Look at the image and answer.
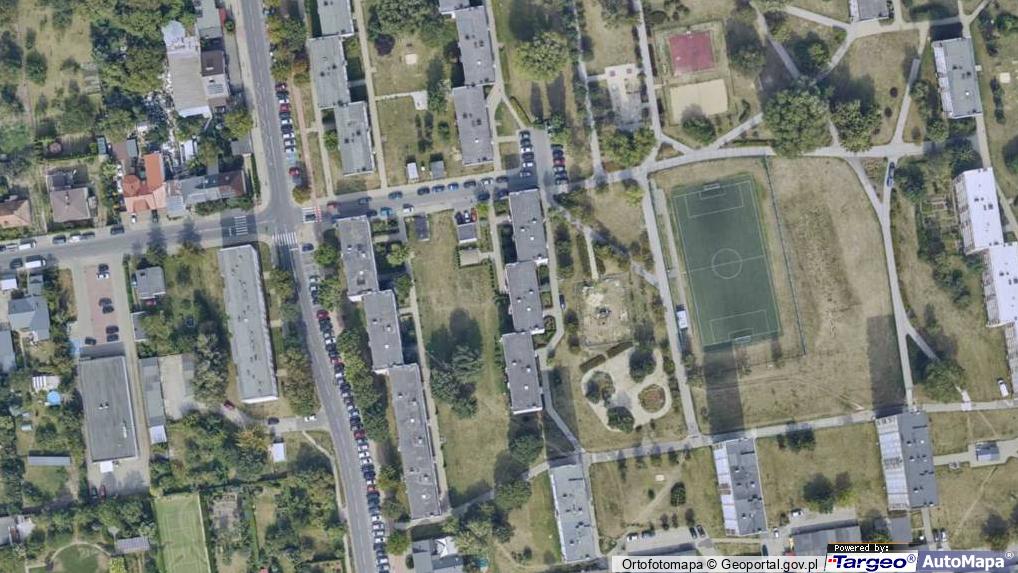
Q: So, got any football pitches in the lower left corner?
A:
No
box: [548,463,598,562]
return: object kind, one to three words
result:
building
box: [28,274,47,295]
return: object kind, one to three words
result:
shed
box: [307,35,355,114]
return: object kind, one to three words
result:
building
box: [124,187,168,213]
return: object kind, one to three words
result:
house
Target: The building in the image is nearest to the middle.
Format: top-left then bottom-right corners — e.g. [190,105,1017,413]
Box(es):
[505,261,545,333]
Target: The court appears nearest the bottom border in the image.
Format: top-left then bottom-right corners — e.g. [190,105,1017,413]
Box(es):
[671,80,728,118]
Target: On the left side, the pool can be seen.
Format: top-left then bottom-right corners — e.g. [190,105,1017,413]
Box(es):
[47,391,61,405]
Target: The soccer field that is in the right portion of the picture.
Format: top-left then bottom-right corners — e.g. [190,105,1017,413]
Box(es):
[672,173,781,352]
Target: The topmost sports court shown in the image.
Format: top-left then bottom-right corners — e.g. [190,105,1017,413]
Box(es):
[669,31,716,74]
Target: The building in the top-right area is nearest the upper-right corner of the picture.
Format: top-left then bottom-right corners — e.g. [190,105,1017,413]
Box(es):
[933,38,982,124]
